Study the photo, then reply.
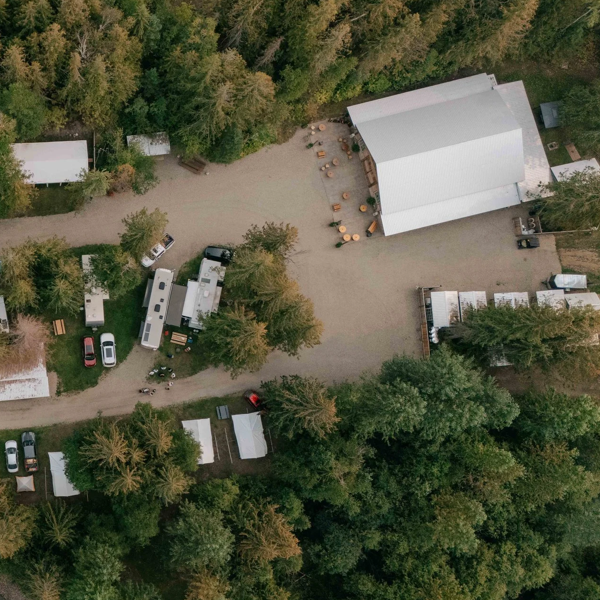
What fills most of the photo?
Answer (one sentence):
The scene is dominated by trees.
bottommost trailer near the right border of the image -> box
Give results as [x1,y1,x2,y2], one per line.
[539,273,586,290]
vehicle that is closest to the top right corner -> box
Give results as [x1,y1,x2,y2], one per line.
[514,237,541,250]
